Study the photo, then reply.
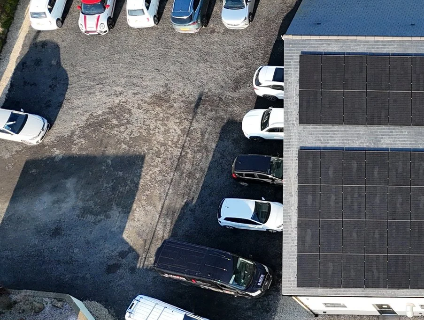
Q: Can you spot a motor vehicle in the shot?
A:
Yes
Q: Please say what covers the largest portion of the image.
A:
paved ground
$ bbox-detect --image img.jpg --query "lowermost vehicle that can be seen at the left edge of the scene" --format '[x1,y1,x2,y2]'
[0,103,55,147]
